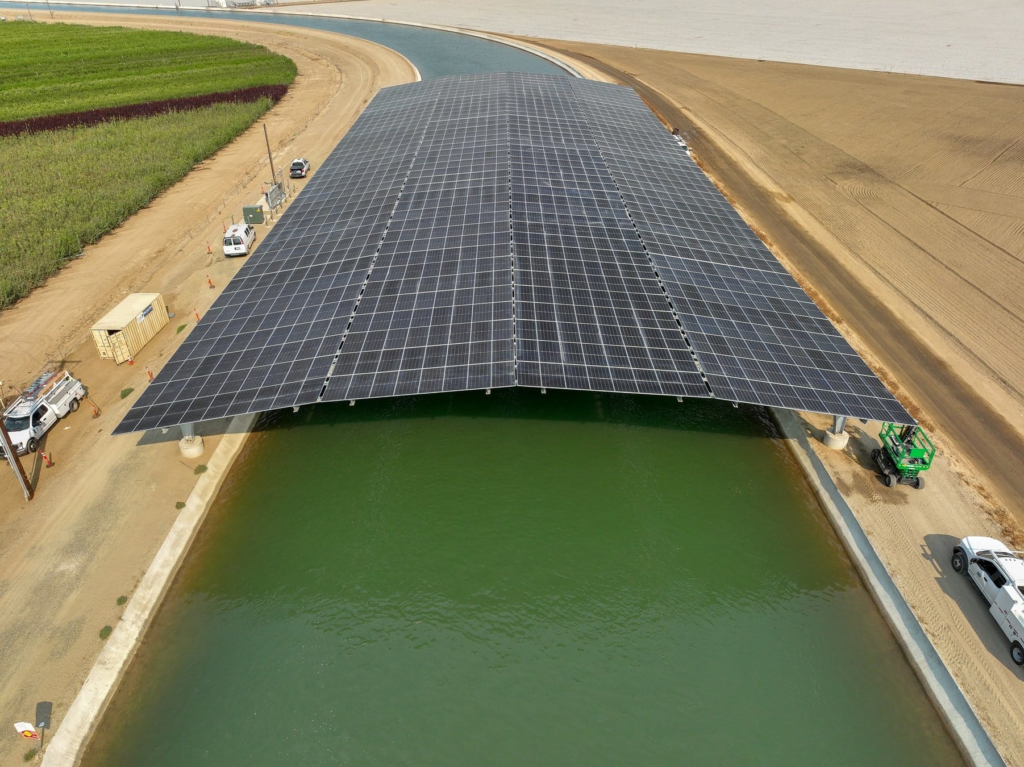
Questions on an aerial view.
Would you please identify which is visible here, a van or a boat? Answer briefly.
van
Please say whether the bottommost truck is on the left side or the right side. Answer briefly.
right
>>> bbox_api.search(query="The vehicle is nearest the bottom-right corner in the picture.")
[954,539,1024,669]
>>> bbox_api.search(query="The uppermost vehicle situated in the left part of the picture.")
[289,157,312,177]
